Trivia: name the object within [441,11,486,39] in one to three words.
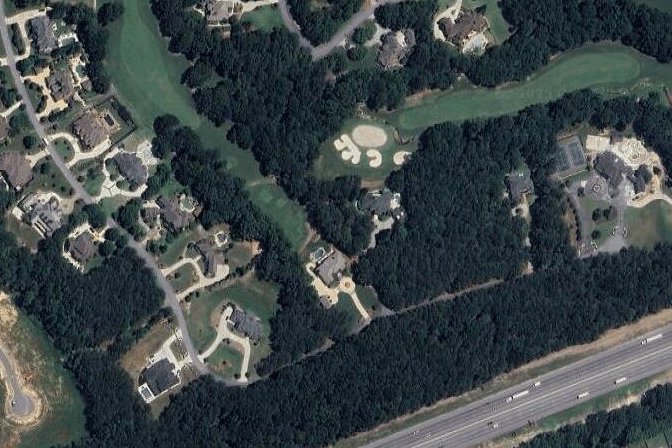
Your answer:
house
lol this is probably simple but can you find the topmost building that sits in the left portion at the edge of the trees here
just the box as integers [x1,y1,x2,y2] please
[206,0,233,22]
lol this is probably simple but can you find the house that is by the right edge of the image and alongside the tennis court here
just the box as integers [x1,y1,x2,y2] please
[590,149,639,190]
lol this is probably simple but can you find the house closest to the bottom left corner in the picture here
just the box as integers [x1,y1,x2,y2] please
[143,358,178,393]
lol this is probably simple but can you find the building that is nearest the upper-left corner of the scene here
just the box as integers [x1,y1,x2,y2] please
[31,15,58,52]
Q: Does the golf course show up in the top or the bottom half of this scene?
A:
top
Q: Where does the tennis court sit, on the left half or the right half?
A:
right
